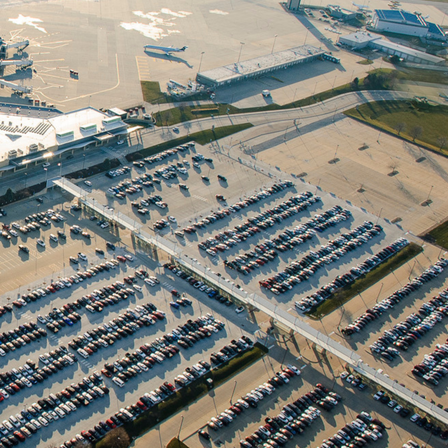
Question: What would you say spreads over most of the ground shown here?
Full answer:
Most of the picture is covered by paved ground.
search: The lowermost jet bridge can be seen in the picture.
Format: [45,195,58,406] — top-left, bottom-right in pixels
[0,77,34,95]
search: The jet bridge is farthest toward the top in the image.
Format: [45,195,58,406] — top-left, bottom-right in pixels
[2,39,32,52]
